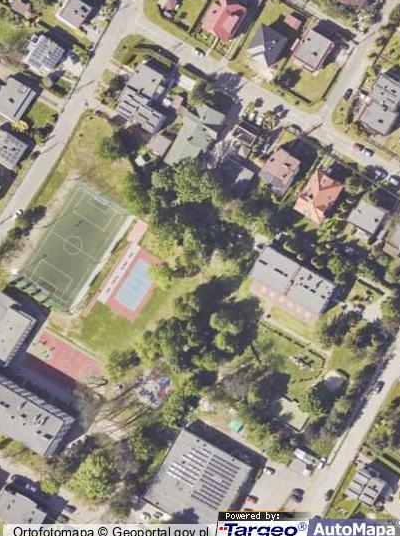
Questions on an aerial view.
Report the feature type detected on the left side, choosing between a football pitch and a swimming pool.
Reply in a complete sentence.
The feature located on the left side is a football pitch.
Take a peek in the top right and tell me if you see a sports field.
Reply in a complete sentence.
No, there's no sports field to be seen in the top right.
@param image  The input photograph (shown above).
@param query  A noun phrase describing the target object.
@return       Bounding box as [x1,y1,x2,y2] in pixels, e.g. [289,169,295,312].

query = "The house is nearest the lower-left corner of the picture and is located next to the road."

[0,486,47,528]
